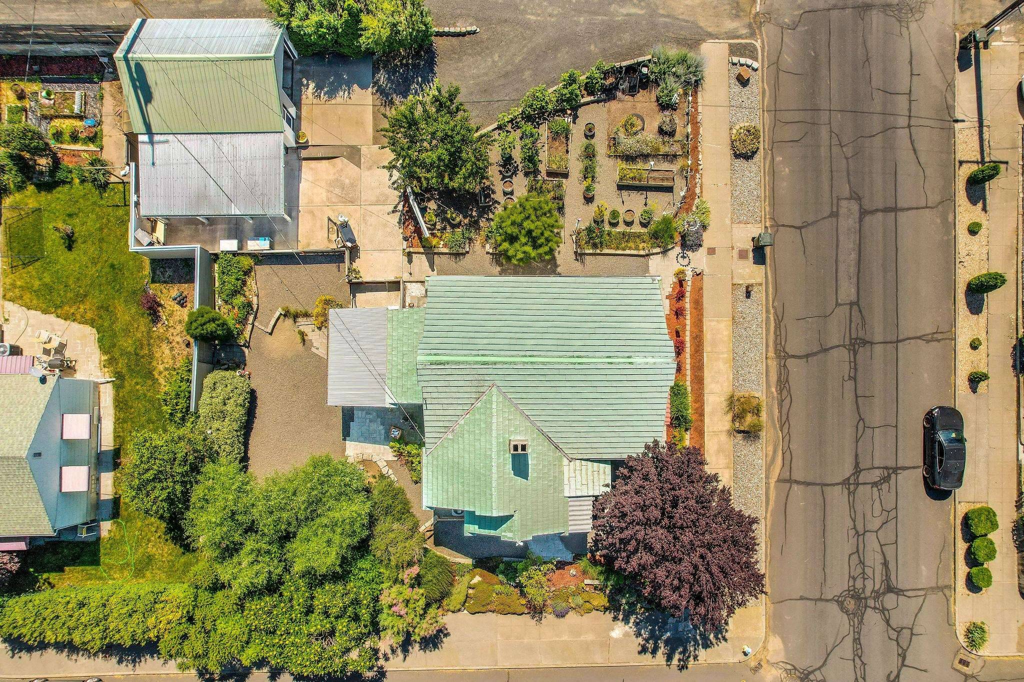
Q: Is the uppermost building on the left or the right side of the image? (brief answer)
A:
left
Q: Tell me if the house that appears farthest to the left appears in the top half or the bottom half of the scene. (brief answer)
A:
bottom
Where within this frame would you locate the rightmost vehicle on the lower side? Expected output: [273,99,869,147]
[920,406,966,489]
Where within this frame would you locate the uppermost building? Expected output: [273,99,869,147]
[114,18,298,146]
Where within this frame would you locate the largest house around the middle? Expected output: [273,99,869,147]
[328,274,680,545]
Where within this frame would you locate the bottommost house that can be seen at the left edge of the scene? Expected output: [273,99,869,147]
[0,356,98,550]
